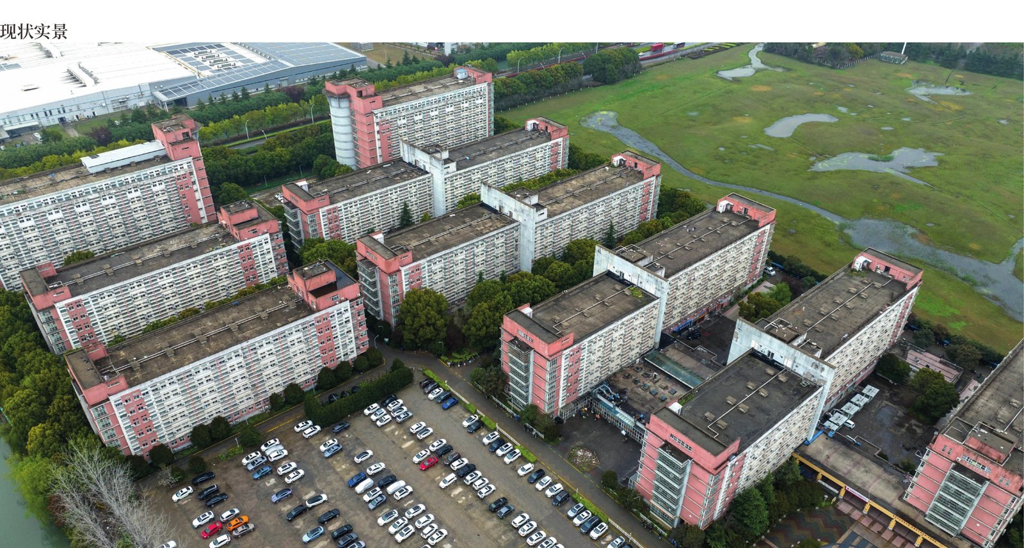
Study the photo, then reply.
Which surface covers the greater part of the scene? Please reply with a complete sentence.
The bulk of the photo consists of buildings.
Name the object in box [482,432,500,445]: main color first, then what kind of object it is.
white vehicle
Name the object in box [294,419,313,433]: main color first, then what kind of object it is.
white car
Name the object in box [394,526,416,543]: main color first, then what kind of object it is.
white car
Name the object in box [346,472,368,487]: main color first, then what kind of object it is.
blue car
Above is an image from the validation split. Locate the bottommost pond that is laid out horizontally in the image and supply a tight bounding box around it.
[809,147,943,187]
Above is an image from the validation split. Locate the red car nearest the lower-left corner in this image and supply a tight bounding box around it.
[200,522,224,539]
